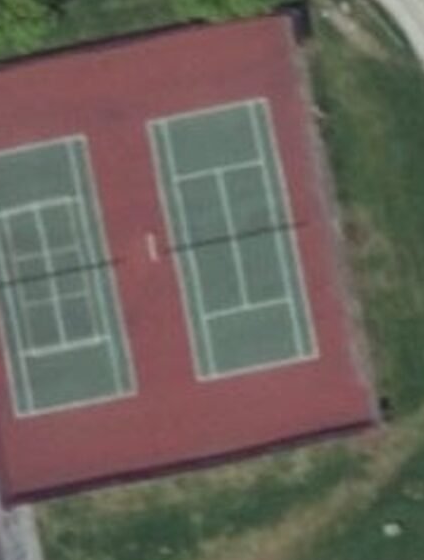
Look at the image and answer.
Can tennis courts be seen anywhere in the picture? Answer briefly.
Yes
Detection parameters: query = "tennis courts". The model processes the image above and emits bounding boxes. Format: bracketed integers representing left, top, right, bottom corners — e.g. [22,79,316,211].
[147,99,319,381]
[0,134,138,418]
